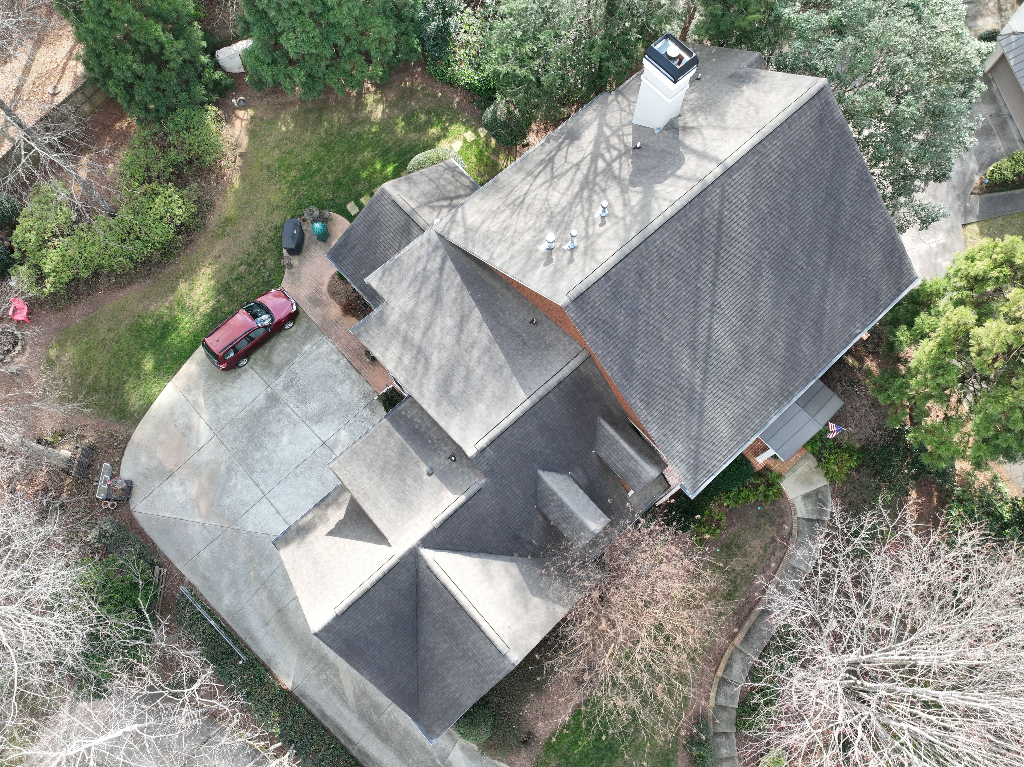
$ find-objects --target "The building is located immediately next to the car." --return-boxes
[269,27,926,748]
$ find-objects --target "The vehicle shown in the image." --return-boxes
[199,287,301,373]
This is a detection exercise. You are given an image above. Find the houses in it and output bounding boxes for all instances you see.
[269,27,926,748]
[985,0,1024,142]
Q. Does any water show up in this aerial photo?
No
